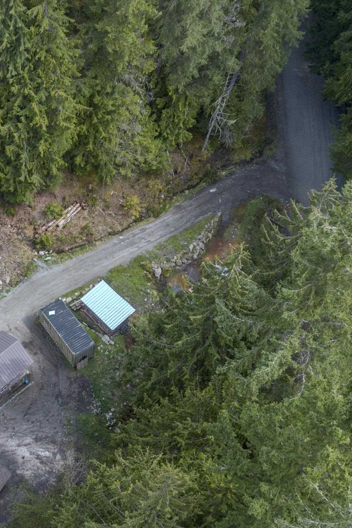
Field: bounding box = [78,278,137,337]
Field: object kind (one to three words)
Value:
shed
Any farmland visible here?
No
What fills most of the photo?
trees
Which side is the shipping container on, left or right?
left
